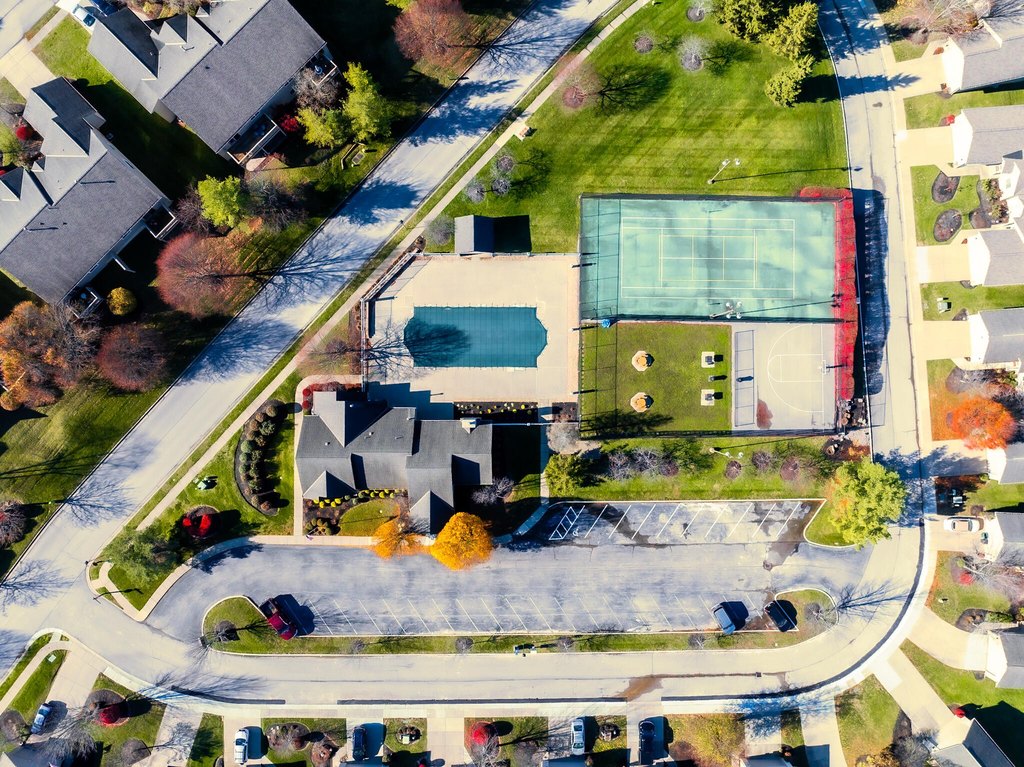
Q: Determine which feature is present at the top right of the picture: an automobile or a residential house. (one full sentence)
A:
There is a residential house at the top right of the picture.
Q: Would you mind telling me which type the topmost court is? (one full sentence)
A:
The topmost court in the image is a tennis court.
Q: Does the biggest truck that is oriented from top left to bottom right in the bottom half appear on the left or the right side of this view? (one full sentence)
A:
The biggest truck that is oriented from top left to bottom right in the bottom half sits on the left side.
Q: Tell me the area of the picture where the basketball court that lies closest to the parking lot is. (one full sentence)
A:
The basketball court that lies closest to the parking lot sits in the right section of the image.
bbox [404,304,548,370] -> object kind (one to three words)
swimming pool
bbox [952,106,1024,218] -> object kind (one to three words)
house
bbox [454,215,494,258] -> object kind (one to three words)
shed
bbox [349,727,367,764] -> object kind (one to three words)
car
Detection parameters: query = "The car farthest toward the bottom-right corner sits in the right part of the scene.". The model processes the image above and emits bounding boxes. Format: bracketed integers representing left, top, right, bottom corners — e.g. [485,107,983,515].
[943,517,982,535]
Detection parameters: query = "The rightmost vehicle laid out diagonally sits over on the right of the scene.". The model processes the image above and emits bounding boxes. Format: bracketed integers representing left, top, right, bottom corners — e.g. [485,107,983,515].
[764,602,794,635]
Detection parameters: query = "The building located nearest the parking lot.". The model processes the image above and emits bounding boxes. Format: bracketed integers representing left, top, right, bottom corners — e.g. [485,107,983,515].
[296,391,493,537]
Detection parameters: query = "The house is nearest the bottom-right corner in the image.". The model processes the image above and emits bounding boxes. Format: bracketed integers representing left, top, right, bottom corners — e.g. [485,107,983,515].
[922,714,1010,767]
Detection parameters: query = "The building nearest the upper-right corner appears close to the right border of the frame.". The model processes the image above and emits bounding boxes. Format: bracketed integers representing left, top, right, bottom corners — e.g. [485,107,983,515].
[939,9,1024,100]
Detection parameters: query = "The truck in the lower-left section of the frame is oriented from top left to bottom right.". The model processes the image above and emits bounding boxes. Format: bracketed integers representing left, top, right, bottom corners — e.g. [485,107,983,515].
[259,599,294,642]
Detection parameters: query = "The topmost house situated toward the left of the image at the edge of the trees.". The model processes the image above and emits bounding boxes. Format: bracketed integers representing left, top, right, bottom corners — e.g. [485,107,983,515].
[92,0,342,170]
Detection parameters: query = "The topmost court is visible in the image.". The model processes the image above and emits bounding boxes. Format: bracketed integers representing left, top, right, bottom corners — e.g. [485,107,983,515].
[582,201,838,320]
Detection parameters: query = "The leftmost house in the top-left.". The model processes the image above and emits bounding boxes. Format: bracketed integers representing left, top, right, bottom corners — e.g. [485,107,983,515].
[0,81,186,321]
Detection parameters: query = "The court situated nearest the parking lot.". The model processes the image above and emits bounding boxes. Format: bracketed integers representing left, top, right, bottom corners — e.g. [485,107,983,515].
[732,324,838,433]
